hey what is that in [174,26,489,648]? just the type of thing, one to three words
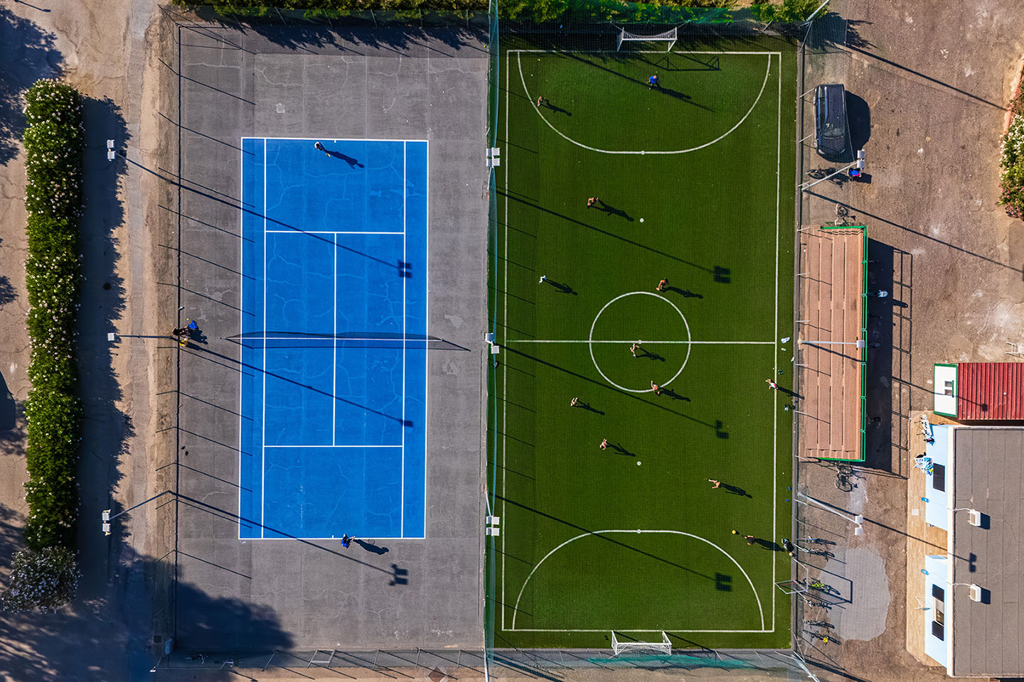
tennis court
